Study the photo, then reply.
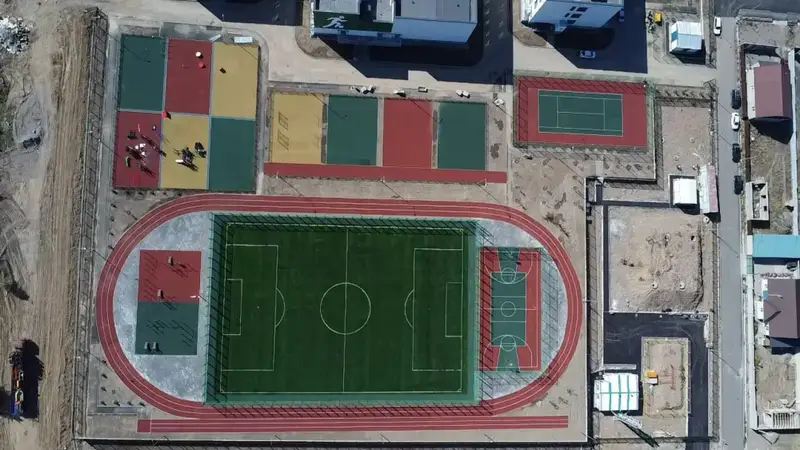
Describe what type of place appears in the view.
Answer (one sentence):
It's a sports ground.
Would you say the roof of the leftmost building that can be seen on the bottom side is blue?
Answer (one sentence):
No, the roof of the leftmost building that can be seen on the bottom side is white.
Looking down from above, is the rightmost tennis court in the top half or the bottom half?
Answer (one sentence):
The rightmost tennis court is in the top half of the image.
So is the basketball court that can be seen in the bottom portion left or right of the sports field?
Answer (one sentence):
Relative to the sports field, the basketball court that can be seen in the bottom portion is on the right.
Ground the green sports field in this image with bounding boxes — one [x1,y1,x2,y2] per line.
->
[206,212,478,402]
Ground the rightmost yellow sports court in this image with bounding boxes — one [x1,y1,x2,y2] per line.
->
[271,94,323,164]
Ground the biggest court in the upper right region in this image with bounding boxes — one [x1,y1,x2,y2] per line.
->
[516,77,648,148]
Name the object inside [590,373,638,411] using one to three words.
building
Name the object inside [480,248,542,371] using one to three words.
basketball court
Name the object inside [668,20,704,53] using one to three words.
house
